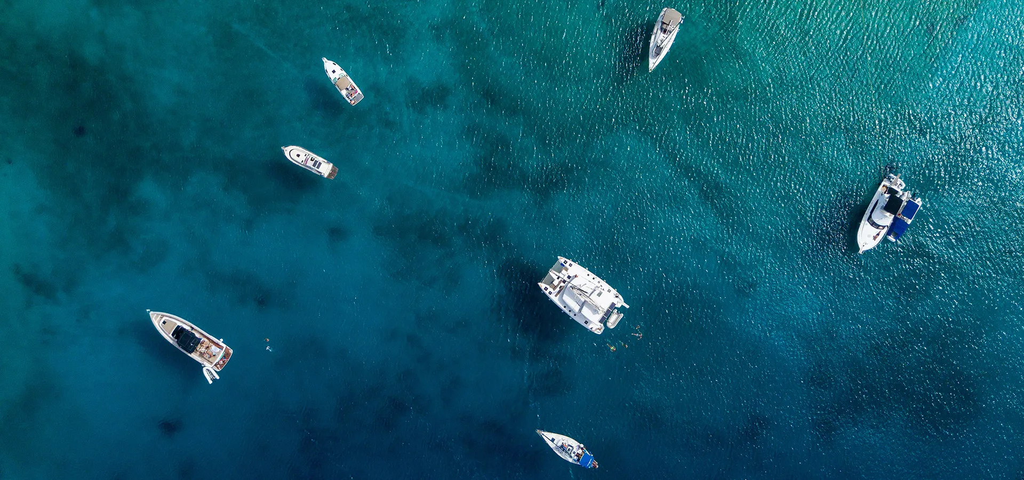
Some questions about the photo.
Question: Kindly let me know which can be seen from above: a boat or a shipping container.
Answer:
boat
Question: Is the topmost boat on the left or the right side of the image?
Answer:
right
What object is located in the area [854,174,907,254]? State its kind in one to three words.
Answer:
boat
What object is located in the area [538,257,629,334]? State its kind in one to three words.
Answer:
boat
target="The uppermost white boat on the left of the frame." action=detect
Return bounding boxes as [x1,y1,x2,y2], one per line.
[322,58,364,106]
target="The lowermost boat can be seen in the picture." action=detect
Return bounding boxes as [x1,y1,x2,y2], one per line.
[536,429,598,468]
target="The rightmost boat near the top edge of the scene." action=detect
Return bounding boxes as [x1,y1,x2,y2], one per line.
[648,2,685,72]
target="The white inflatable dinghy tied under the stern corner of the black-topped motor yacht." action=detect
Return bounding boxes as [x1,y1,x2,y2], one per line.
[202,366,218,383]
